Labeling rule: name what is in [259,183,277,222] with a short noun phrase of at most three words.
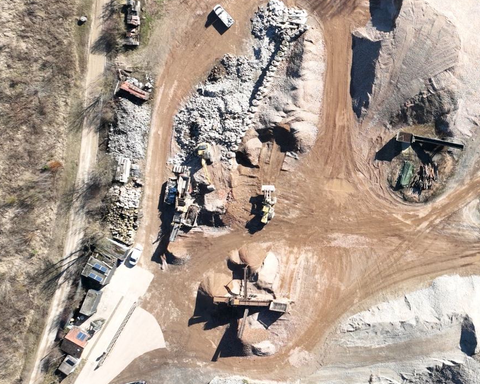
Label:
work vehicle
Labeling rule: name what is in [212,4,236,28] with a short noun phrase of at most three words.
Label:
truck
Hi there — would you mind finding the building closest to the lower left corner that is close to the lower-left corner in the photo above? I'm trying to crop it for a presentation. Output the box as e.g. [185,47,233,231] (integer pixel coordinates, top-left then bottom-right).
[58,351,87,377]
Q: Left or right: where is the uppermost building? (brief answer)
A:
left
